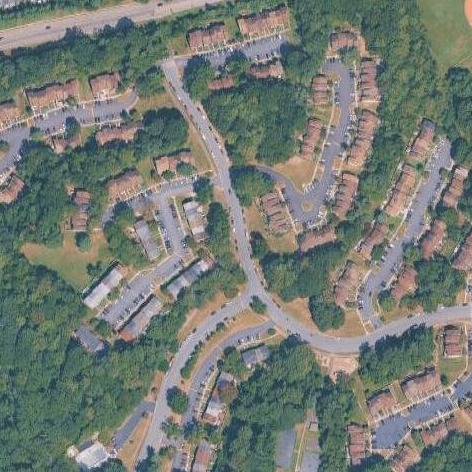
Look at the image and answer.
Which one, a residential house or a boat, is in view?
residential house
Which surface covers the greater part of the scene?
trees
